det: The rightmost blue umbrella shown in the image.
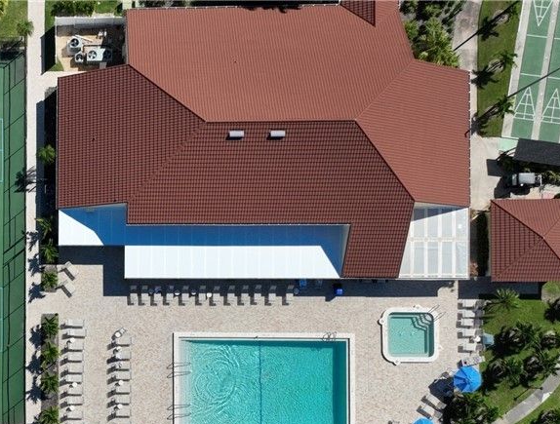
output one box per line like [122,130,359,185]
[450,364,479,394]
